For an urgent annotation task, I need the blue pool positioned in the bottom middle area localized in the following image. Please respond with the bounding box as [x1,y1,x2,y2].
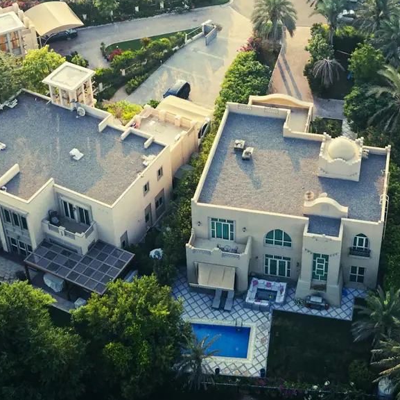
[180,313,256,364]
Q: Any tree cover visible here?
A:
Yes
